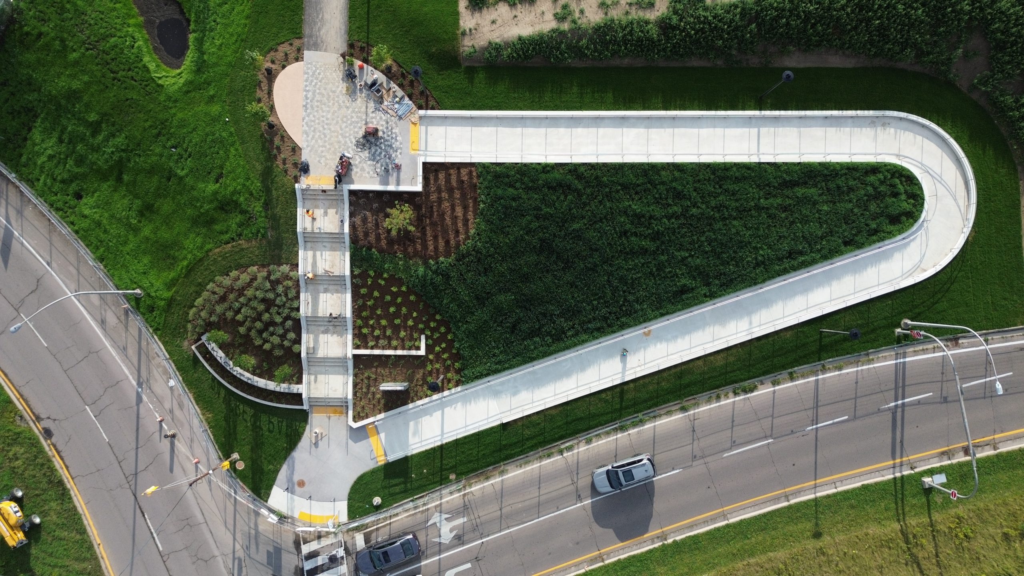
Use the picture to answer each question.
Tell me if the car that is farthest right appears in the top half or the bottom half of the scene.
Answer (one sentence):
The bottom half of the photo is where the car that is farthest right is.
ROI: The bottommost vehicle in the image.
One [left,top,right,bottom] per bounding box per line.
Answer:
[352,534,421,576]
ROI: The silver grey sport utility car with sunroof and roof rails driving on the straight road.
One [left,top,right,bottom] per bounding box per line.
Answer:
[590,452,658,493]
